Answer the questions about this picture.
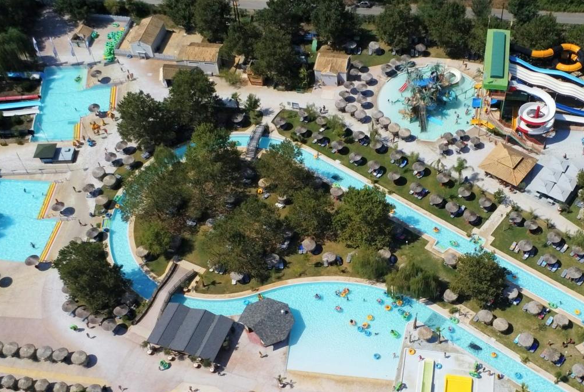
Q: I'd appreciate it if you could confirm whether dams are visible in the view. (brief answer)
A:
No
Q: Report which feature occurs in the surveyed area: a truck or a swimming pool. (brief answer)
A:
swimming pool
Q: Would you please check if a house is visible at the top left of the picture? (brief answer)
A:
Yes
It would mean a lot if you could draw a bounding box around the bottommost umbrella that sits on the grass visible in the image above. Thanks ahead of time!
[570,363,584,378]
